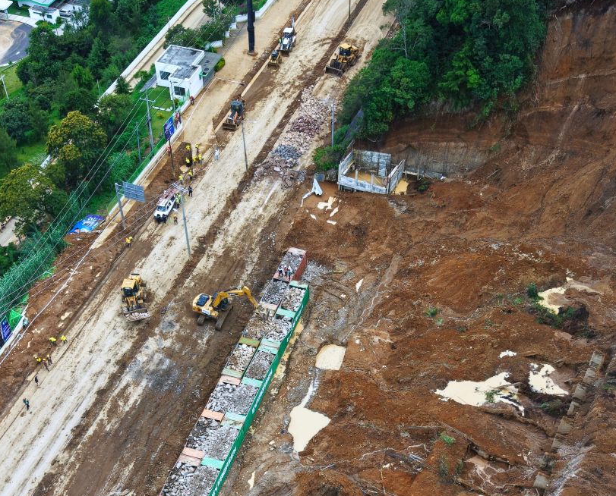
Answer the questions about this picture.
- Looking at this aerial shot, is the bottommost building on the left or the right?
left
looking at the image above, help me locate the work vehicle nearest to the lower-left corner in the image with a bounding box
[119,272,147,323]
